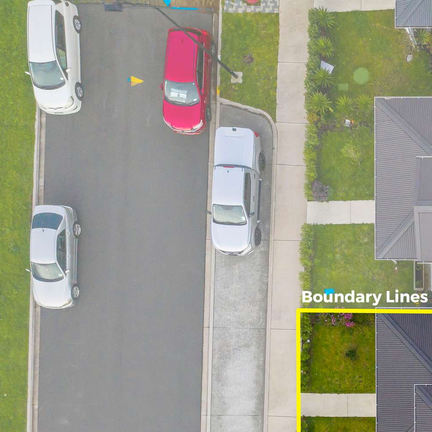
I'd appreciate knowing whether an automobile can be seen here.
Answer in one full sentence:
Yes, looking at the shot, I can spot an automobile.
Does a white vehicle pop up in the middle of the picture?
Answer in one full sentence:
Yes, a white vehicle appears in the middle of the picture.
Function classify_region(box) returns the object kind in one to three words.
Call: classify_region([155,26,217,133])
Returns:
car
